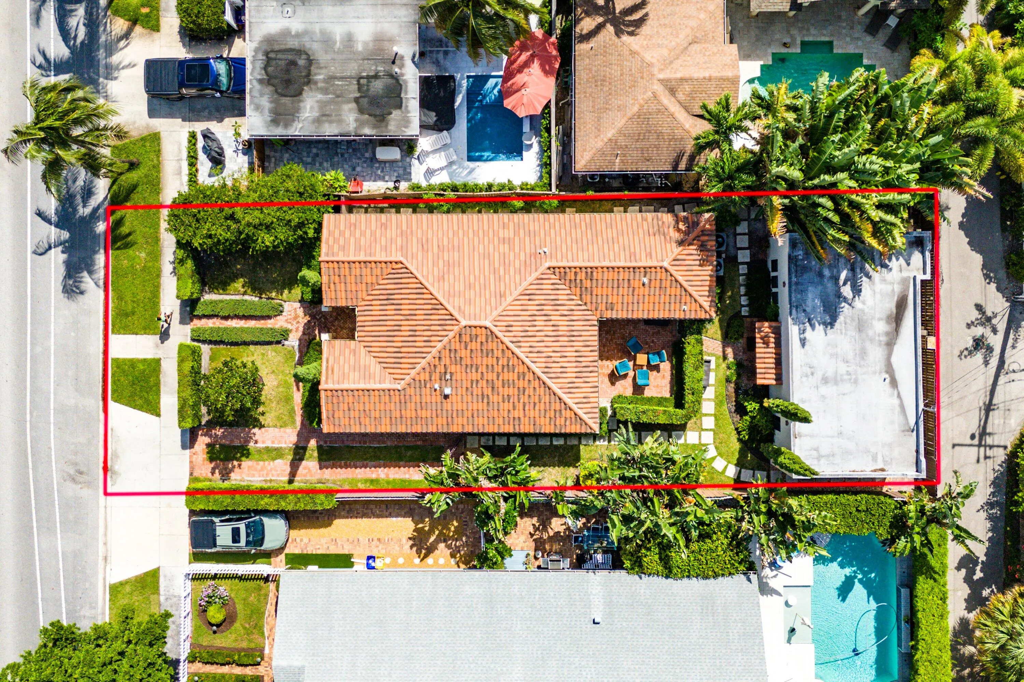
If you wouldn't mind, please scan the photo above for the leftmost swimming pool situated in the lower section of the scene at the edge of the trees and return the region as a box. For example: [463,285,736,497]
[783,516,898,682]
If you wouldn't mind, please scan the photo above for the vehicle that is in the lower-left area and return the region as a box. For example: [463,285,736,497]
[191,510,292,558]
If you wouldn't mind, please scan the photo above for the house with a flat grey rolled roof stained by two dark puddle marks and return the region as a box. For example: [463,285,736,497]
[247,0,420,139]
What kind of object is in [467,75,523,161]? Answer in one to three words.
swimming pool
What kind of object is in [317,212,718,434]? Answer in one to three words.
house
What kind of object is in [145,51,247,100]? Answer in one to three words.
truck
